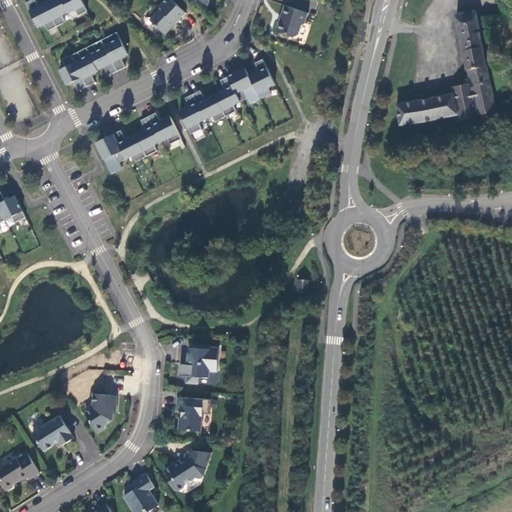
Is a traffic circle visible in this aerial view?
Yes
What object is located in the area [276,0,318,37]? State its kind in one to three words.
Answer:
house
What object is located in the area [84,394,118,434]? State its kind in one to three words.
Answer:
house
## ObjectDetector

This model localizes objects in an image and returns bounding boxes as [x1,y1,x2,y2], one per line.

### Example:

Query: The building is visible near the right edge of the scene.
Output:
[398,10,495,125]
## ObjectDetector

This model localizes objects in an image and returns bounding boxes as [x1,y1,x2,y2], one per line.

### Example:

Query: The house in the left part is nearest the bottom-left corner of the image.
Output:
[0,454,37,494]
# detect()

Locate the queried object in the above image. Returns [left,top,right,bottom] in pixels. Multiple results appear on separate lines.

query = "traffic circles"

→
[324,204,396,276]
